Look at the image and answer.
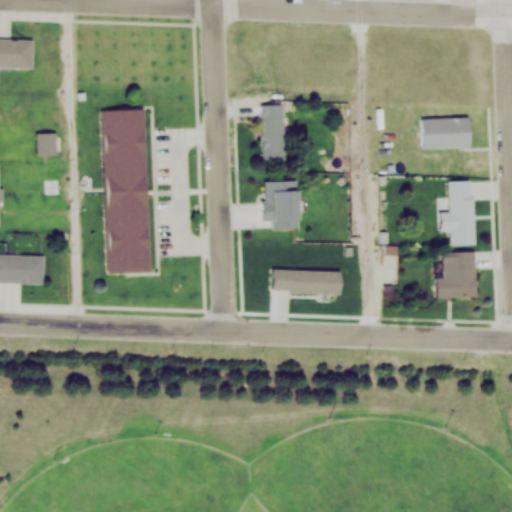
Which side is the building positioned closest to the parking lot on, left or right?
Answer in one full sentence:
You can find the building positioned closest to the parking lot on the left side of the picture.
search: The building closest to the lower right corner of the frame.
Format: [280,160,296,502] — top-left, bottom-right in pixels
[432,251,478,300]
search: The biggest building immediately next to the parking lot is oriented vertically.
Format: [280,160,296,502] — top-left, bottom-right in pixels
[101,110,152,274]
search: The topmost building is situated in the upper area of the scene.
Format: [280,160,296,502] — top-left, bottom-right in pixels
[0,39,34,69]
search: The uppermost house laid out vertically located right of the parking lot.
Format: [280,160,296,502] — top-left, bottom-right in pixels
[260,105,286,159]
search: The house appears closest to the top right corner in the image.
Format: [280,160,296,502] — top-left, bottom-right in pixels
[420,118,472,150]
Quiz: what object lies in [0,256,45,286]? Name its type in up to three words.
house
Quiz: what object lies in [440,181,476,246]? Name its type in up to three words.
house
